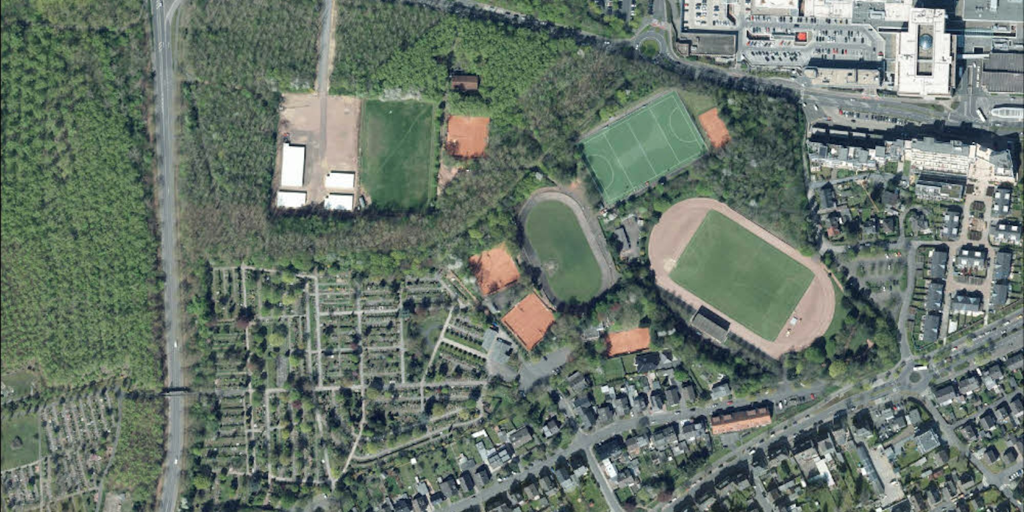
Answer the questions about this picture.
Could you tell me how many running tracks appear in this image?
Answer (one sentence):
Altogether the scene contains 2 running tracks.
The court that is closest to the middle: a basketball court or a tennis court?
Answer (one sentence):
From above, the court that is closest to the middle can be identified as a tennis court.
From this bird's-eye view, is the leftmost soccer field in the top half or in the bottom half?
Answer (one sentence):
You can find the leftmost soccer field in the top half.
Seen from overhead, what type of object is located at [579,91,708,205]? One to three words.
sports field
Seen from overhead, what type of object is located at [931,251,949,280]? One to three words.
house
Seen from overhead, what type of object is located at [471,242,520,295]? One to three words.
tennis court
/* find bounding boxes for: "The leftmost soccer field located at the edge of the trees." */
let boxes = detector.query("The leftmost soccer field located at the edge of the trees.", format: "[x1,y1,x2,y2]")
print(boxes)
[358,99,434,209]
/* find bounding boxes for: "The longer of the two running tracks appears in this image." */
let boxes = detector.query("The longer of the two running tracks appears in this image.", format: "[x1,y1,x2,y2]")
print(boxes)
[648,197,844,360]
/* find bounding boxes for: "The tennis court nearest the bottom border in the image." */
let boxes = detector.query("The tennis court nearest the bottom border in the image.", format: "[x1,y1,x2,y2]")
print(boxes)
[607,328,650,358]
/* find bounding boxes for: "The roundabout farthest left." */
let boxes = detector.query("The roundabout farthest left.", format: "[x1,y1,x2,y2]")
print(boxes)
[633,32,667,65]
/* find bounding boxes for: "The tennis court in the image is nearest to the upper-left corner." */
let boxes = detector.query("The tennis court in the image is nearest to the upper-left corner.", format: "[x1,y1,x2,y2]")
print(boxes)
[447,116,489,157]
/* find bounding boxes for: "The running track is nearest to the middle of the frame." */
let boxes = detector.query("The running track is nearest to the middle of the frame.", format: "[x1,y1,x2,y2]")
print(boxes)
[518,186,618,307]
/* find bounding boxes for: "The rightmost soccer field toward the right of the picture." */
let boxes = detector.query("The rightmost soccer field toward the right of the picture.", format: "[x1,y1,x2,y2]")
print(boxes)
[669,210,815,341]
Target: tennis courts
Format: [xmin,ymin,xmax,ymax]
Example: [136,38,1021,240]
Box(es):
[471,242,520,295]
[607,328,650,358]
[700,108,729,147]
[501,293,556,350]
[447,116,489,157]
